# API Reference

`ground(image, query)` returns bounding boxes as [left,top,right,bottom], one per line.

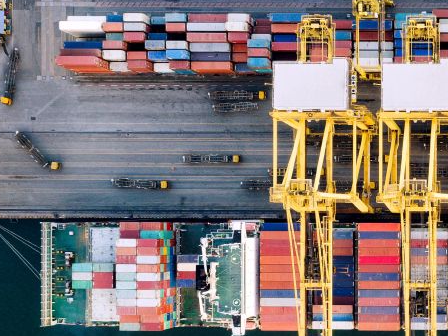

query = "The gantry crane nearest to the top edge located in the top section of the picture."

[352,0,398,81]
